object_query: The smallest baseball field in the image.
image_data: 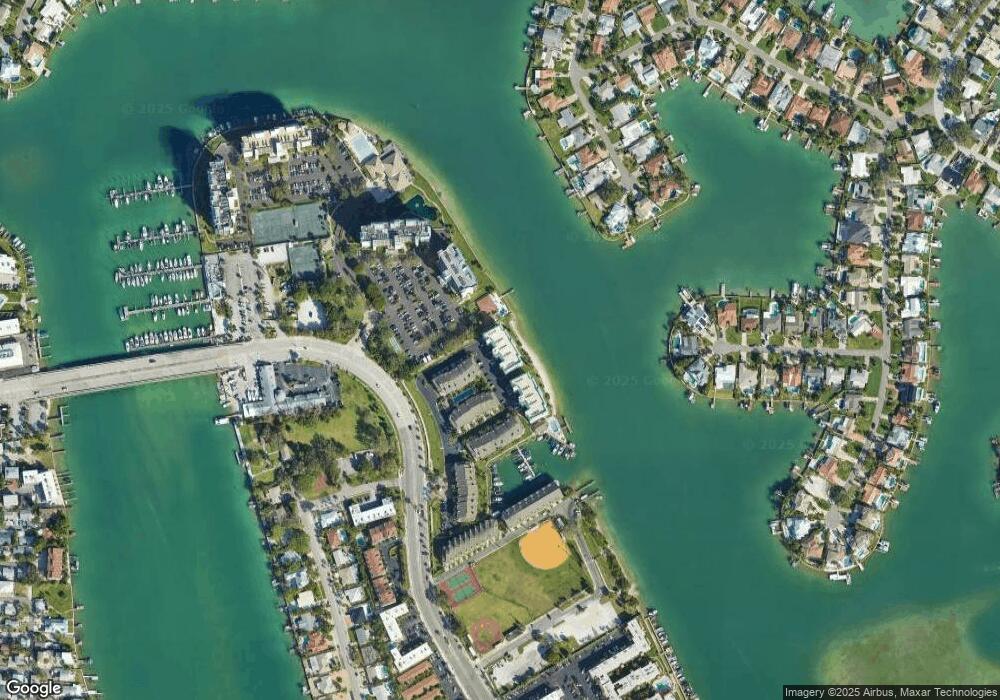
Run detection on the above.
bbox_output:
[471,617,504,653]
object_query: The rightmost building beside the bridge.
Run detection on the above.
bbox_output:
[242,364,327,419]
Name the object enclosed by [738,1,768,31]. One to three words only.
house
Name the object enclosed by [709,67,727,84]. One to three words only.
swimming pool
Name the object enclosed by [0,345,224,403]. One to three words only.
bridge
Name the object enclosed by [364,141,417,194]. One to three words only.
building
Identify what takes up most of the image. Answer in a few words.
water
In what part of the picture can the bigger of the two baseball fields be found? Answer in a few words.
bottom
